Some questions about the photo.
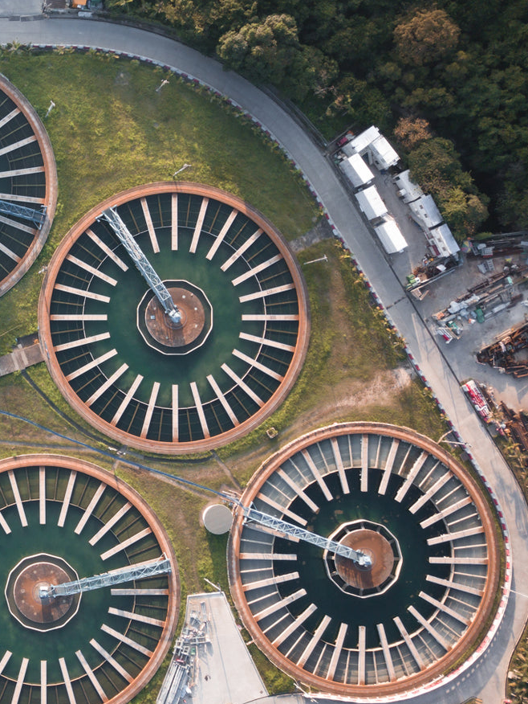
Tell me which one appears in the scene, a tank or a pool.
tank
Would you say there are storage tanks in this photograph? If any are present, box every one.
[37,181,309,453]
[201,503,232,533]
[0,74,58,296]
[227,421,505,698]
[0,455,181,704]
